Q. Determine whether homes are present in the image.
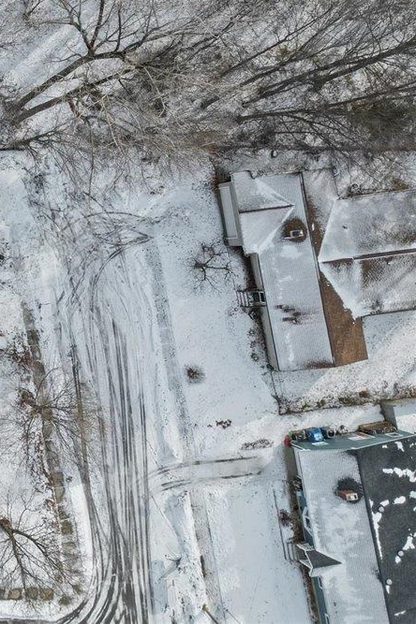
Yes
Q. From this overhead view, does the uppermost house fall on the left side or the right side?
right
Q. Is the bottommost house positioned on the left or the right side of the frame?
right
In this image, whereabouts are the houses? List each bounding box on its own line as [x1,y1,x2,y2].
[205,168,416,371]
[283,427,416,624]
